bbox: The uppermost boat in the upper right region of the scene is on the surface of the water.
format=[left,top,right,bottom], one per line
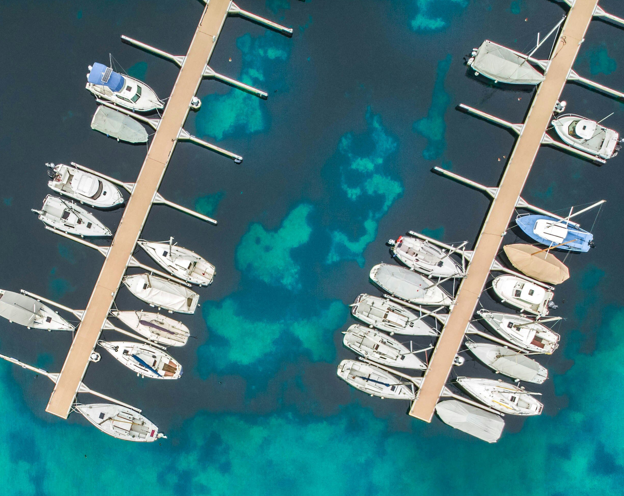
[463,14,567,91]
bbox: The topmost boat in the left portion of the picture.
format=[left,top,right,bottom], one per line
[80,58,170,125]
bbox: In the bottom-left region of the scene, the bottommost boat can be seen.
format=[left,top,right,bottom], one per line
[70,394,165,445]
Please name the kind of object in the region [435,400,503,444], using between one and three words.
boat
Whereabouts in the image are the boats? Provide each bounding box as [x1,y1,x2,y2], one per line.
[444,373,546,416]
[105,299,194,346]
[348,297,445,346]
[546,111,623,159]
[134,230,216,287]
[90,105,160,154]
[435,400,503,444]
[70,394,165,445]
[80,58,170,125]
[338,327,435,378]
[463,14,567,91]
[37,163,134,213]
[457,332,555,384]
[0,289,83,348]
[388,233,469,287]
[336,361,419,407]
[469,299,566,353]
[31,193,120,251]
[116,268,203,314]
[494,235,576,289]
[368,264,458,314]
[92,333,181,380]
[508,200,610,252]
[484,267,562,314]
